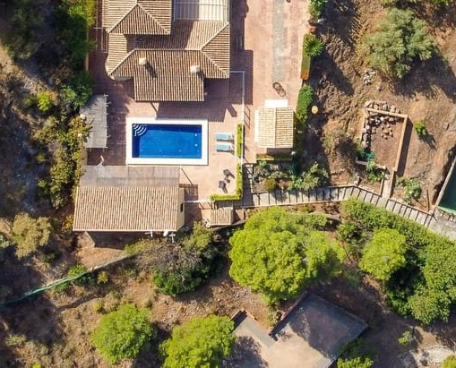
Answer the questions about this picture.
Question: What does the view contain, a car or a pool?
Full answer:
There is a pool in the scene.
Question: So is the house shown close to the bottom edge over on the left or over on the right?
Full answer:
The house shown close to the bottom edge is on the right side of the image.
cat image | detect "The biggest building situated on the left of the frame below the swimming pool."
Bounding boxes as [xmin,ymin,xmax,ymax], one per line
[71,164,184,242]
